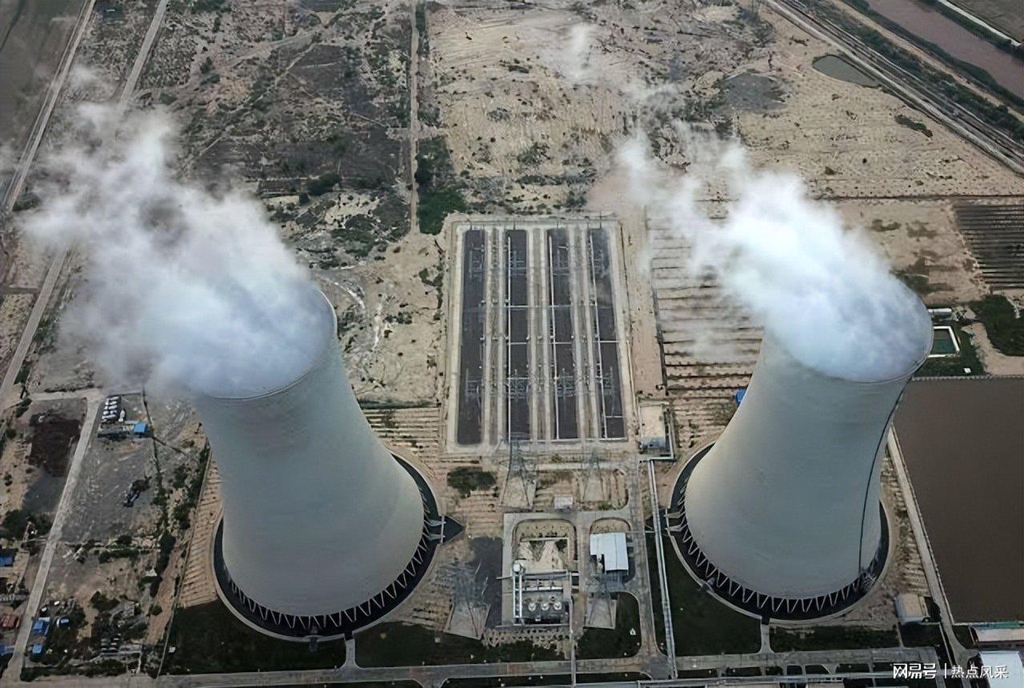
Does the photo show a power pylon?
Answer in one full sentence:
Yes, the photo shows a power pylon.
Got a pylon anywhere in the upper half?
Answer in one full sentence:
No, no pylon can be made out in the upper half.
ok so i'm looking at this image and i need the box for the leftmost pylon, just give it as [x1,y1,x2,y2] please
[423,561,501,637]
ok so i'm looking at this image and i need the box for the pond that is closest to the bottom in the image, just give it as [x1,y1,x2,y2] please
[896,379,1024,623]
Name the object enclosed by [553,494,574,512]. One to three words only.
shed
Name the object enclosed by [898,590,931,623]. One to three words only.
building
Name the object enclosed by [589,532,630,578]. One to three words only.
building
